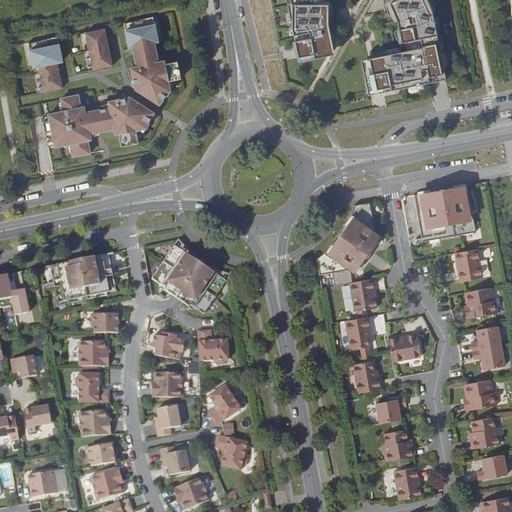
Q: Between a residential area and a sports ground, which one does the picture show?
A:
residential area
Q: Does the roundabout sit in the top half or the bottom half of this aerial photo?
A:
top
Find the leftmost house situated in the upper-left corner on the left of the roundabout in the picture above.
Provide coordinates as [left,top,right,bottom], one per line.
[29,36,64,94]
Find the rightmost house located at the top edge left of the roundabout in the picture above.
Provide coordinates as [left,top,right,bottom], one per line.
[126,15,172,108]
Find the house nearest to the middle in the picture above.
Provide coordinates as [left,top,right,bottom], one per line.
[166,250,226,310]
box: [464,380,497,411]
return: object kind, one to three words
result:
house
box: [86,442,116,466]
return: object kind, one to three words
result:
house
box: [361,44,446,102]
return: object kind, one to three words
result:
building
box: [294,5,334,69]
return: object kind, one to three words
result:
building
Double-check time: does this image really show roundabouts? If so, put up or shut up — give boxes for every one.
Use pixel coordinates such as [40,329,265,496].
[180,66,372,278]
